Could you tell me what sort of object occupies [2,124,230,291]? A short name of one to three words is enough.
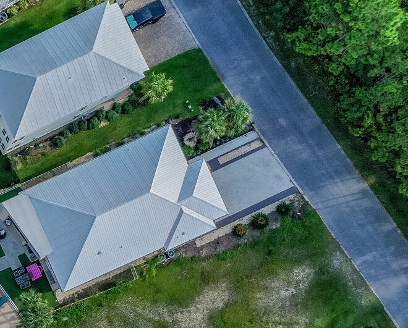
house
